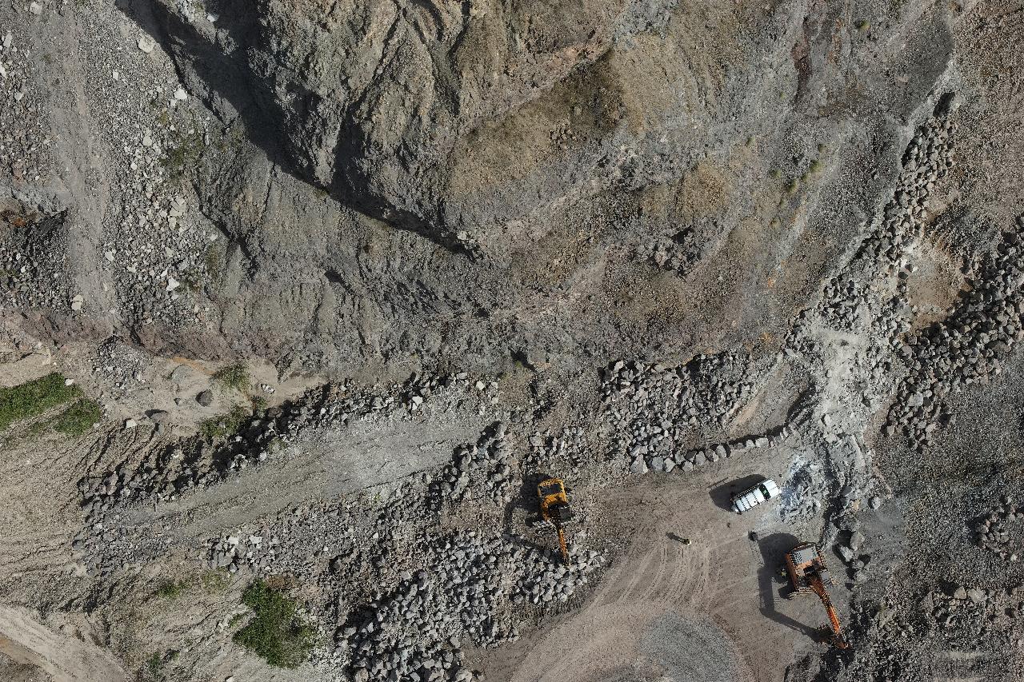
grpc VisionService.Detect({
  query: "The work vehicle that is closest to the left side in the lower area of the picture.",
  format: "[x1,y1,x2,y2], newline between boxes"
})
[528,474,577,561]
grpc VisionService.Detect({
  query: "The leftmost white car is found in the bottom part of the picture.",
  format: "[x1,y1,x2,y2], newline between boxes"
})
[726,475,781,514]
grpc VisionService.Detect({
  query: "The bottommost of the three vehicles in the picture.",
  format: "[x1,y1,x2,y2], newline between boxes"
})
[771,538,839,642]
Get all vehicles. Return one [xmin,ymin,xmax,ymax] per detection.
[528,474,577,561]
[771,538,839,642]
[726,475,781,514]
